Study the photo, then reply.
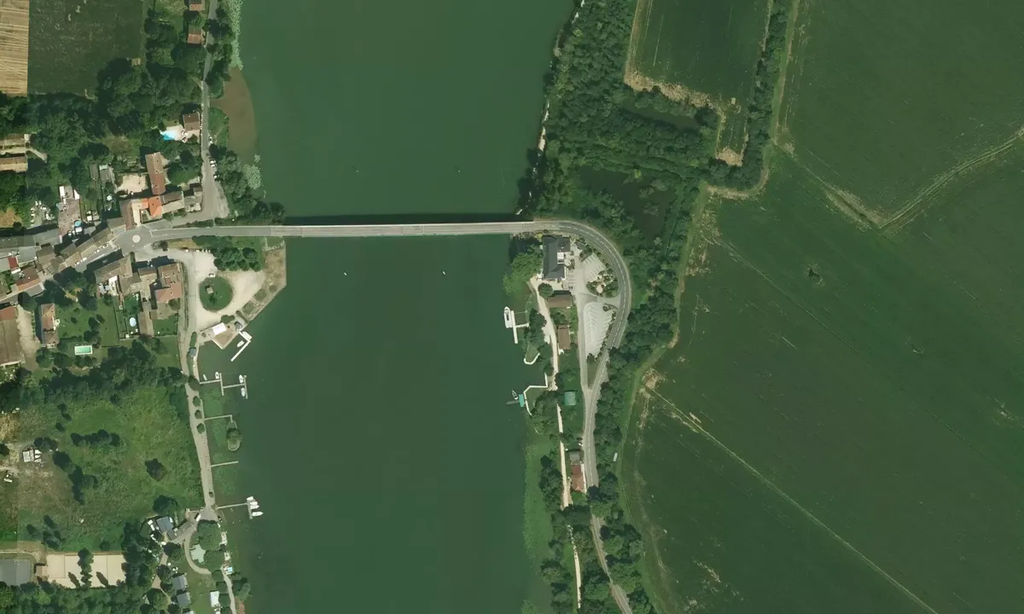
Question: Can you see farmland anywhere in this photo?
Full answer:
Yes, farmland can be seen from above here.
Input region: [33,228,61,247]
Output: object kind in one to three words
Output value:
building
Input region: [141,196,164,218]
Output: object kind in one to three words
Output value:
house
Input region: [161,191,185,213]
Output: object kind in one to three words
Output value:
house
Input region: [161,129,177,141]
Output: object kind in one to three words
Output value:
swimming pool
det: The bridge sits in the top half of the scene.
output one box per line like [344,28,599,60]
[284,222,516,237]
